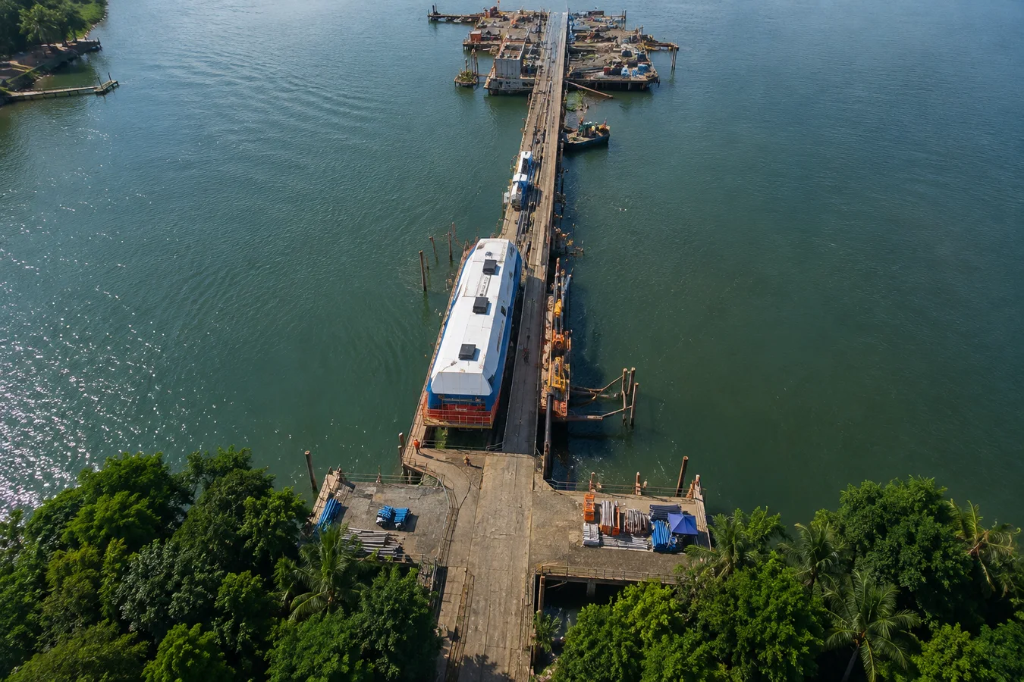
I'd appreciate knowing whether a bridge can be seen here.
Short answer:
Yes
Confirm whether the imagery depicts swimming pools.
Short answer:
No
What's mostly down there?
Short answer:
water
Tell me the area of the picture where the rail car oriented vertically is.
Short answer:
top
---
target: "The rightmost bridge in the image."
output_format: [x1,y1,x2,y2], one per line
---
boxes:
[498,12,567,470]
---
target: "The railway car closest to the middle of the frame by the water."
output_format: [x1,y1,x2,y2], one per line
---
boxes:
[510,150,531,209]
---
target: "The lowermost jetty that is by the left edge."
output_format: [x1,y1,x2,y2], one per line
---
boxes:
[6,65,119,104]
